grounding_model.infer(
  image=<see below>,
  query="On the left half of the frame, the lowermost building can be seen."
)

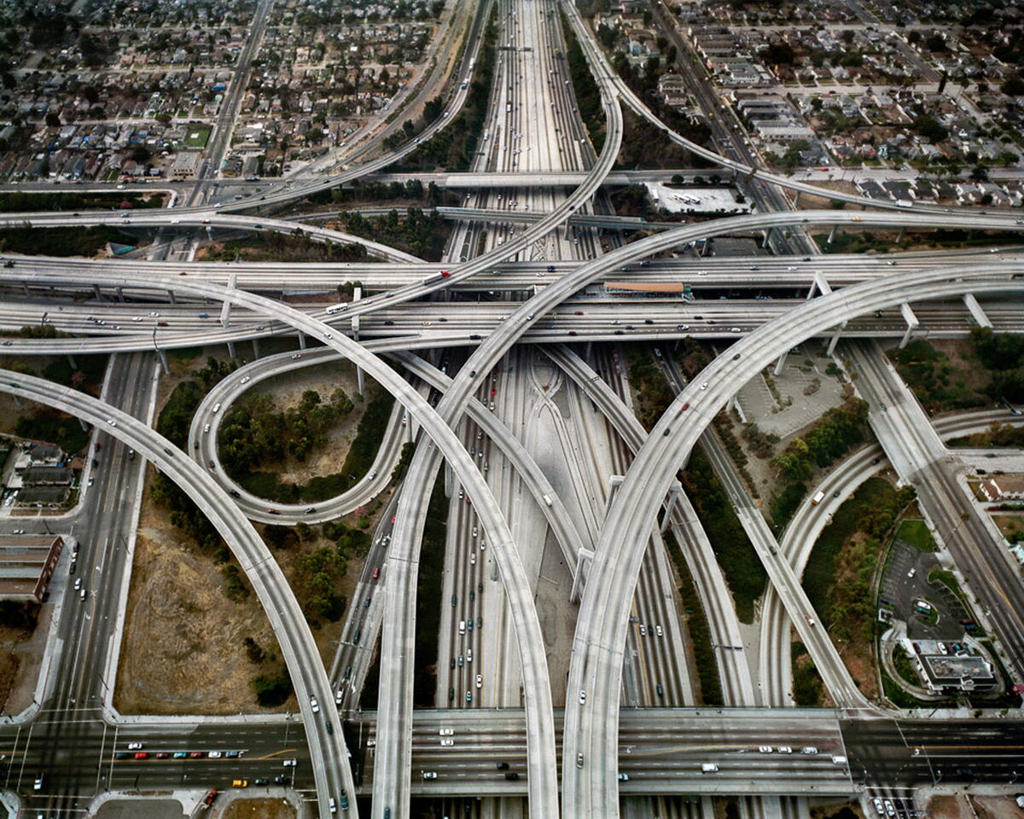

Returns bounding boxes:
[0,532,61,604]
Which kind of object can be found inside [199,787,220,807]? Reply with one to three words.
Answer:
vehicle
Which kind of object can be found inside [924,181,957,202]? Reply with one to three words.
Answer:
house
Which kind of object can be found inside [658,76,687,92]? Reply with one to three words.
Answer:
building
